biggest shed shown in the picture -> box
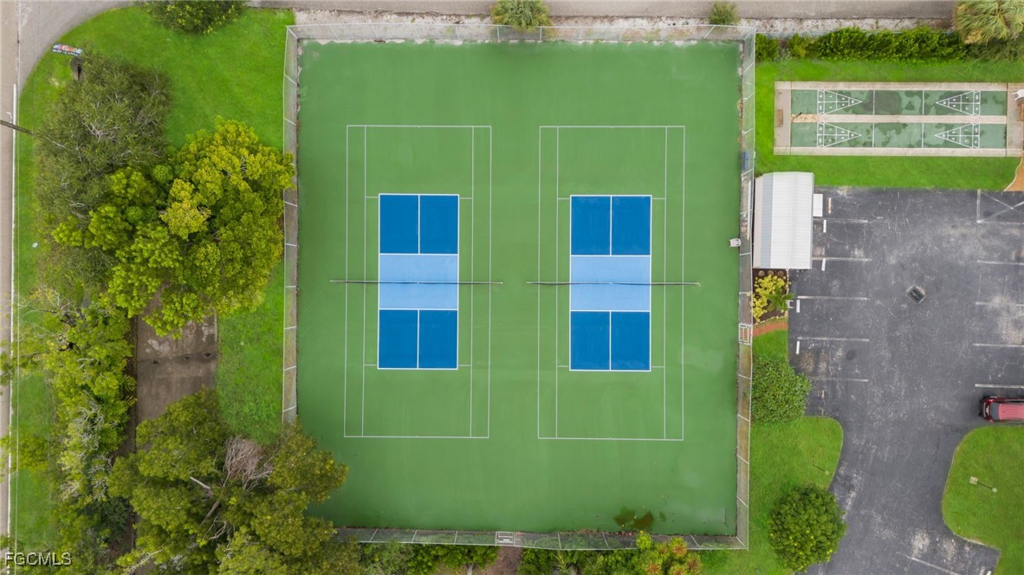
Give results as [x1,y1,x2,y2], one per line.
[755,172,815,268]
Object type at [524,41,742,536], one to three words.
sports court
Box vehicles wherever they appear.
[986,396,1024,424]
